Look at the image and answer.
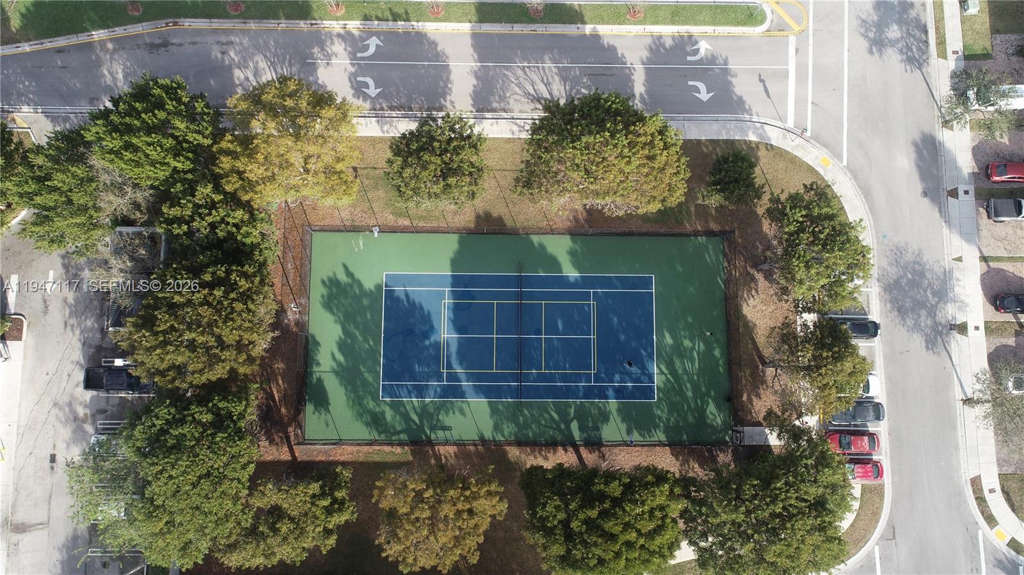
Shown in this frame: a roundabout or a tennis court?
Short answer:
tennis court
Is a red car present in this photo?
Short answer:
Yes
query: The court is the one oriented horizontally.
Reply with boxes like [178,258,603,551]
[303,232,732,447]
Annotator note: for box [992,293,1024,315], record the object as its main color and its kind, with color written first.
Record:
black car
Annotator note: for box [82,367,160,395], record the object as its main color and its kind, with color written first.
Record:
black truck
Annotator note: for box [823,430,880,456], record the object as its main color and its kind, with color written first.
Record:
red car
